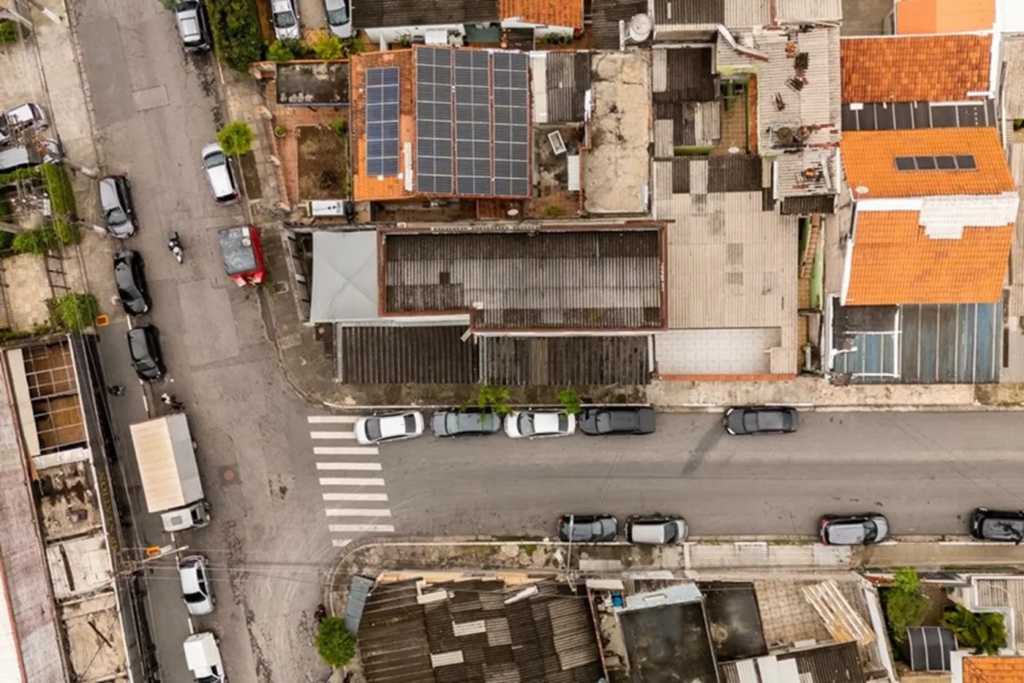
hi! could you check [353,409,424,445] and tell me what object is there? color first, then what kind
white car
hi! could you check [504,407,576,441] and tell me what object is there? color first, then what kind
white car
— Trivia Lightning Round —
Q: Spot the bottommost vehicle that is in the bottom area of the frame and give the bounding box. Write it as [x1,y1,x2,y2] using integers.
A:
[181,623,241,683]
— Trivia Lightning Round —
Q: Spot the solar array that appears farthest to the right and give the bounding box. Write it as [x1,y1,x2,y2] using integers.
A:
[895,156,977,171]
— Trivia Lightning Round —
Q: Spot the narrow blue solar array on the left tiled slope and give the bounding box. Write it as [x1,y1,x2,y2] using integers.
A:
[366,67,399,176]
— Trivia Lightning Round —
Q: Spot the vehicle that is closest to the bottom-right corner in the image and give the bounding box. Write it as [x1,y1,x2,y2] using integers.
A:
[966,508,1024,544]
